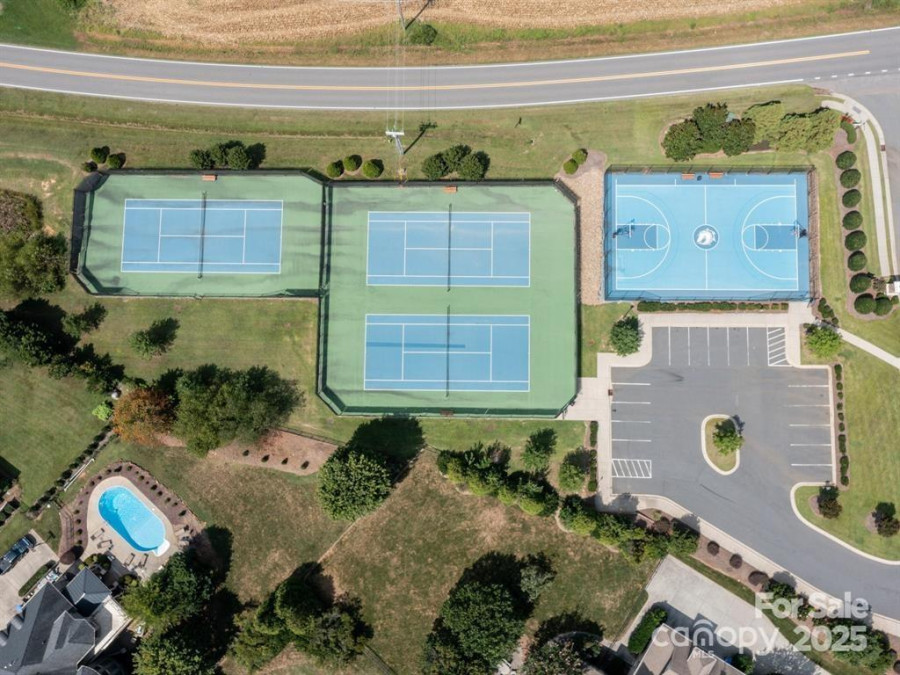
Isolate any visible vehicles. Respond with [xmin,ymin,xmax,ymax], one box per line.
[0,537,34,578]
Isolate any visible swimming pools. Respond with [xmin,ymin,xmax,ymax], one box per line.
[80,476,193,584]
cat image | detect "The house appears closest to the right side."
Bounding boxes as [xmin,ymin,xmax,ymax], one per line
[621,623,748,675]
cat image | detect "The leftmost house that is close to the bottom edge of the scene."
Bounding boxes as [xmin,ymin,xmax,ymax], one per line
[0,562,126,675]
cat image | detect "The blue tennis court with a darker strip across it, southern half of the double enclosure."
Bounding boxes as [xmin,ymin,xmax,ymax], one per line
[323,300,577,417]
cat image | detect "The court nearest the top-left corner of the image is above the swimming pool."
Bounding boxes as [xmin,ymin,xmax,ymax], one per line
[80,175,322,296]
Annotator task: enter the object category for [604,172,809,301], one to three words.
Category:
basketball court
